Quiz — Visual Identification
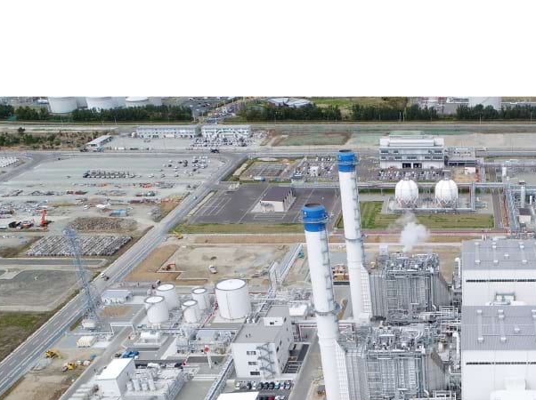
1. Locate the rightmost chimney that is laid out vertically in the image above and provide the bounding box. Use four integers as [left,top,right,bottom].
[335,154,366,324]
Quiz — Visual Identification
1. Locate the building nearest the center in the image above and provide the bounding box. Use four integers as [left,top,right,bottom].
[260,191,297,211]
